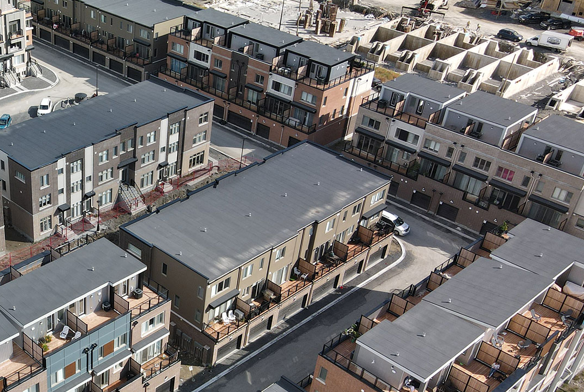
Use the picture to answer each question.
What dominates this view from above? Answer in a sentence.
The largest share of the image is taken up by buildings.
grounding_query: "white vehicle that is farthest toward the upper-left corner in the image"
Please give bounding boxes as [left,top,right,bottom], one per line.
[36,96,50,116]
